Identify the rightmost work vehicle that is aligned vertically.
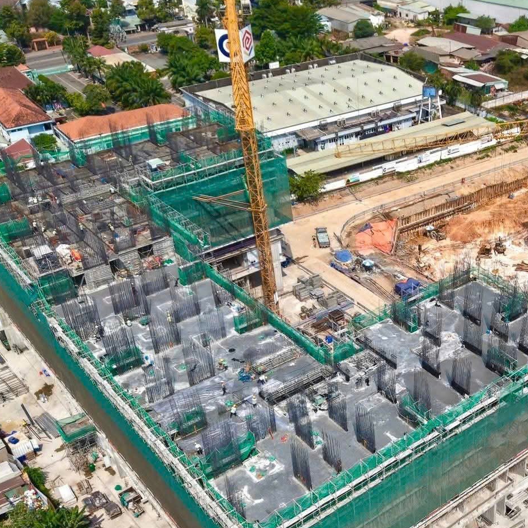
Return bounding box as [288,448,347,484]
[493,223,508,256]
